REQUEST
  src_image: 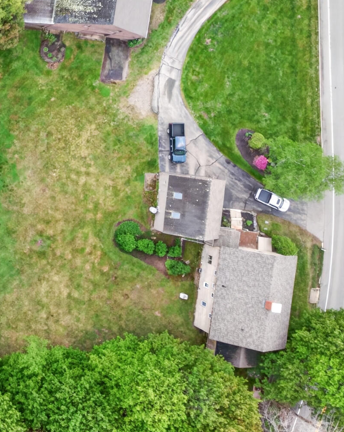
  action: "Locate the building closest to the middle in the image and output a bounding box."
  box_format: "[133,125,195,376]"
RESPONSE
[152,175,226,241]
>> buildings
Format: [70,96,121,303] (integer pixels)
[44,0,154,39]
[152,175,226,241]
[195,243,297,352]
